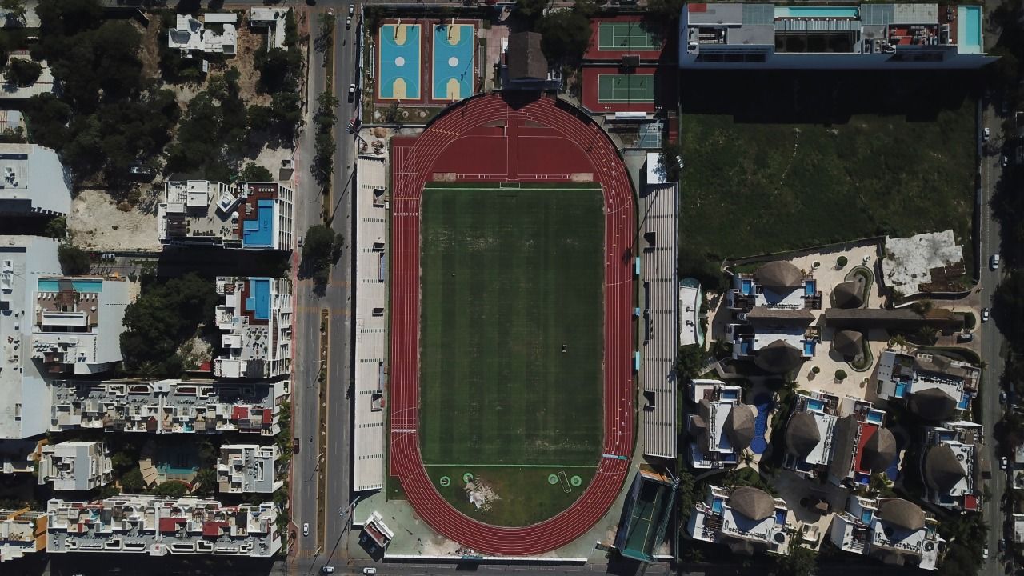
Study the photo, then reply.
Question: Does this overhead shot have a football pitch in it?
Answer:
Yes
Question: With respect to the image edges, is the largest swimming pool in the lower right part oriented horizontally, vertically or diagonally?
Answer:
vertically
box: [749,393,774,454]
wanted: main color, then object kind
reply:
blue swimming pool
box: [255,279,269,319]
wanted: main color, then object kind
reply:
blue swimming pool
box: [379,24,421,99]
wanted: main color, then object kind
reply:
blue basketball court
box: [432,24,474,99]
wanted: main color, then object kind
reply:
blue basketball court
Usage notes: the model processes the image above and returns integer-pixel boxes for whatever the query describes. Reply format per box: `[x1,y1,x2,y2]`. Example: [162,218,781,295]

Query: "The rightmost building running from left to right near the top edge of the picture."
[677,3,1002,71]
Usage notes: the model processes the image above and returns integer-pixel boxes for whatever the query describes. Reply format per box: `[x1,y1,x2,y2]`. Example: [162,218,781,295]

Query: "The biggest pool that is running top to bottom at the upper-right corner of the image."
[965,5,982,47]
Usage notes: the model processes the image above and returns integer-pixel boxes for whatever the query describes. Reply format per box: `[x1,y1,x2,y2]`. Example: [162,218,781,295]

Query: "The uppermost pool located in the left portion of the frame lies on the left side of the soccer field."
[243,199,274,246]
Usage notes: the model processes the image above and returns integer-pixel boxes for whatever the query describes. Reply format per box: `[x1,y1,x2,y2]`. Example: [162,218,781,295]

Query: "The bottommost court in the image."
[619,470,675,560]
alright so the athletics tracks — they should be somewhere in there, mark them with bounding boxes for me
[390,94,633,555]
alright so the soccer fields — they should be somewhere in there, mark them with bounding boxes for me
[419,182,605,528]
